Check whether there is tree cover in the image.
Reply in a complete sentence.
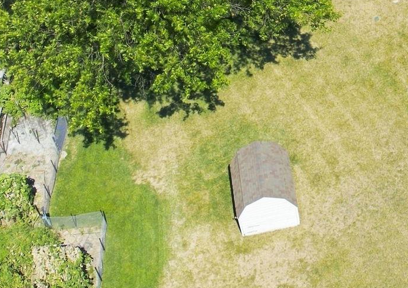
Yes, tree cover can be seen from above here.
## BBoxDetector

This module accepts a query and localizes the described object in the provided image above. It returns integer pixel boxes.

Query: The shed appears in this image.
[229,133,300,236]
